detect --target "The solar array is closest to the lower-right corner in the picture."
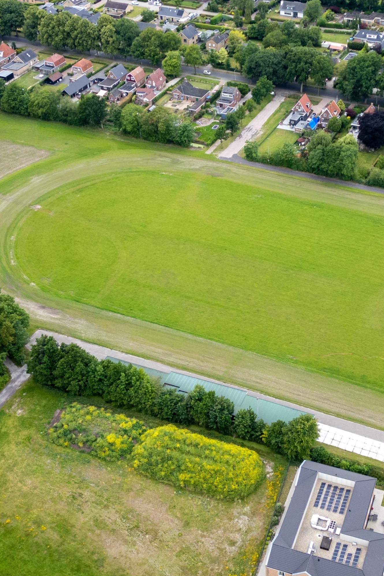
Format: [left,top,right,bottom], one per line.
[331,542,361,566]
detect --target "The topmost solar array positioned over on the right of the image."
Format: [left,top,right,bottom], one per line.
[313,482,351,514]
